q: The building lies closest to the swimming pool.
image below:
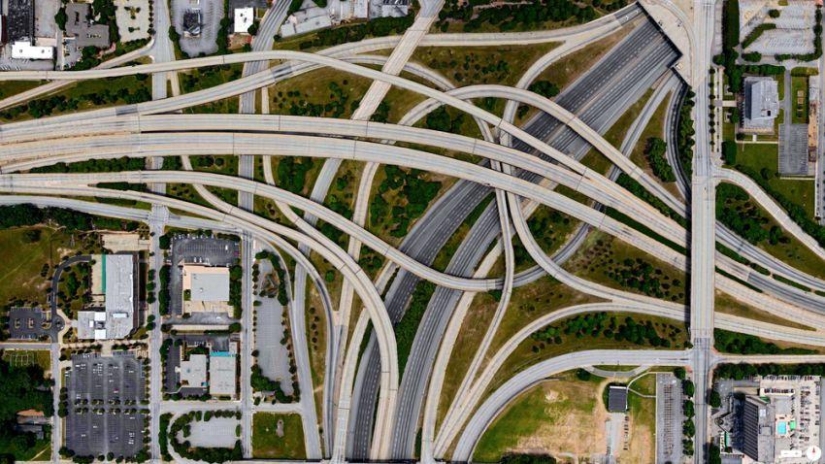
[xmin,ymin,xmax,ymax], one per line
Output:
[744,397,777,464]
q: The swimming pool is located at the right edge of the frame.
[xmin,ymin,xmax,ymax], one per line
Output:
[777,415,796,438]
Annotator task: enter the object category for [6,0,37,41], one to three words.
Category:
building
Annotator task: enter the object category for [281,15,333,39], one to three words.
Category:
building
